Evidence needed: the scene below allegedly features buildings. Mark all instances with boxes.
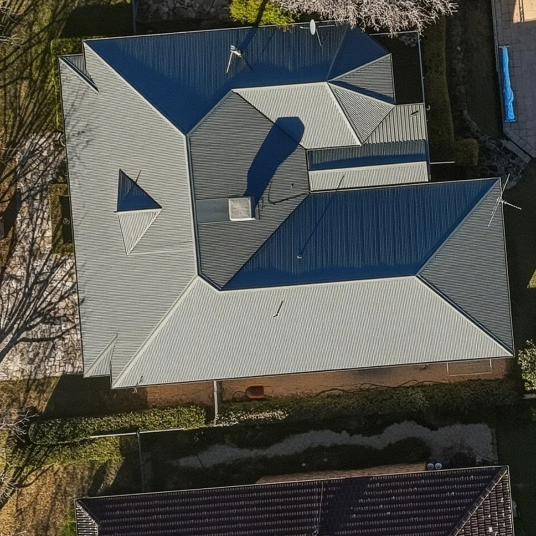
[72,459,516,536]
[54,21,516,392]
